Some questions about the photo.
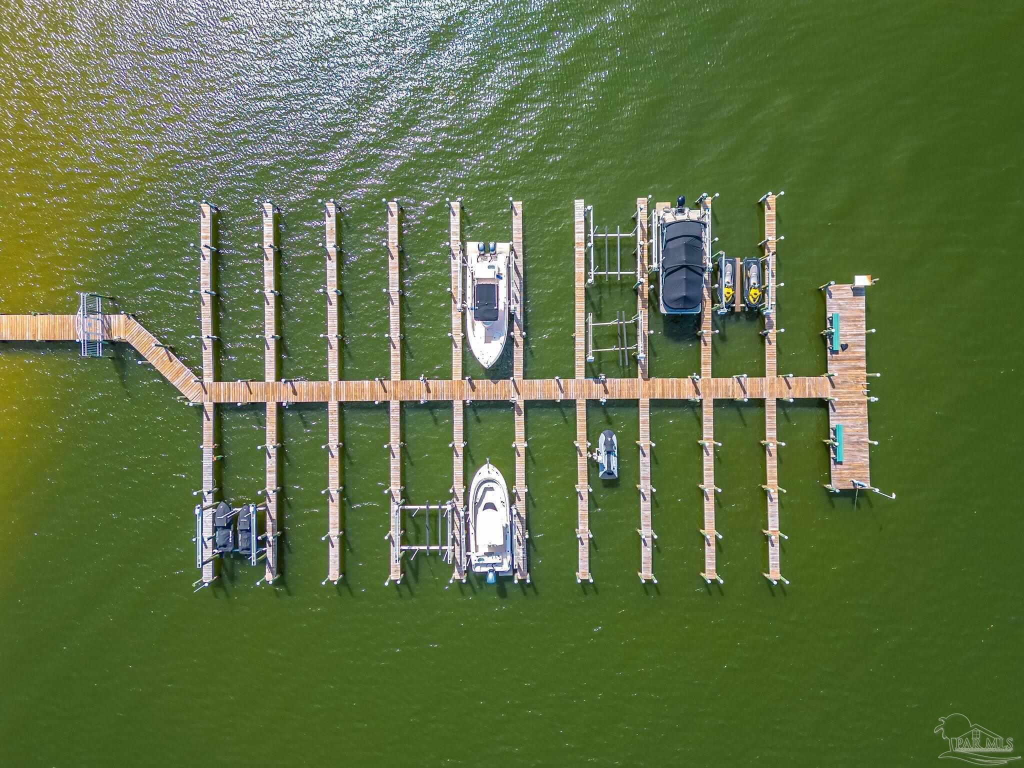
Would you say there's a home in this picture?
No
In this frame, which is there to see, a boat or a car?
boat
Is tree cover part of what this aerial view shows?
No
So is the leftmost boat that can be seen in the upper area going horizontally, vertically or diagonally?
vertically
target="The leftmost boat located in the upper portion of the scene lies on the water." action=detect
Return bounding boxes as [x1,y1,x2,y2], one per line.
[467,242,509,369]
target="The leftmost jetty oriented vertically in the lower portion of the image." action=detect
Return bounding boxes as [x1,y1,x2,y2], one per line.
[193,403,223,586]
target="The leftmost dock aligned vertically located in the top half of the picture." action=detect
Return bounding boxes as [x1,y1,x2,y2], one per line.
[190,199,221,381]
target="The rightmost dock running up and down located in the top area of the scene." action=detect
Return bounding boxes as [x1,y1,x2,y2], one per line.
[758,192,784,377]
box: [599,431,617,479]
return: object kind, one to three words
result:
boat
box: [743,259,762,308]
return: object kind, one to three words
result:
boat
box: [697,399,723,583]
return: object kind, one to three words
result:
pier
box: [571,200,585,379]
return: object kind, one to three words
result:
pier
